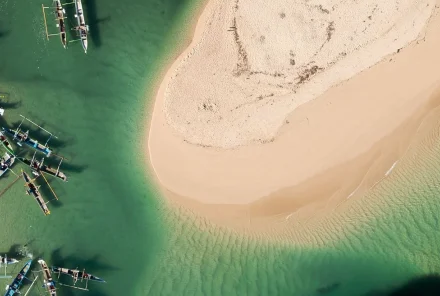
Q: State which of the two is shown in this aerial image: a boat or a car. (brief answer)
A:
boat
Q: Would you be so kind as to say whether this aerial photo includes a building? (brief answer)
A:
No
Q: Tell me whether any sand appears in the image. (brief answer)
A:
Yes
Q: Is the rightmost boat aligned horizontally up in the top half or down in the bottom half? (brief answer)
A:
bottom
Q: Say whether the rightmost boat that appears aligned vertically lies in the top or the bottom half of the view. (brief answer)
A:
top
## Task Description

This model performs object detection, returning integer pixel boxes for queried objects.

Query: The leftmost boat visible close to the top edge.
[42,0,67,49]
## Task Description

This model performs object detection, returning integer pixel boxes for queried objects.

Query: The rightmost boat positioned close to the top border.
[62,0,90,53]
